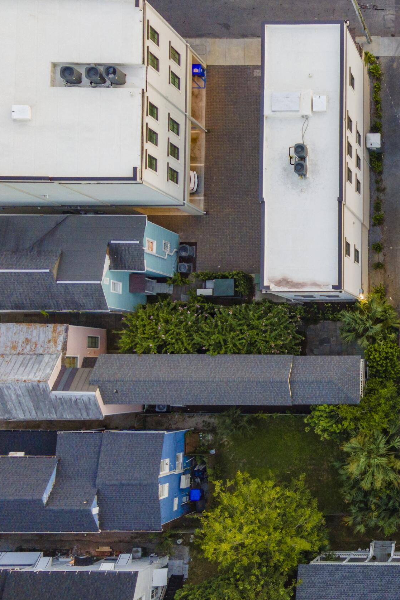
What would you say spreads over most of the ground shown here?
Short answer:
buildings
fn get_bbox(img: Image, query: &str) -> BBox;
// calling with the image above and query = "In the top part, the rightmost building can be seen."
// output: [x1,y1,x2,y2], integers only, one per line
[255,12,370,297]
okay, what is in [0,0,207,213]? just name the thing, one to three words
building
